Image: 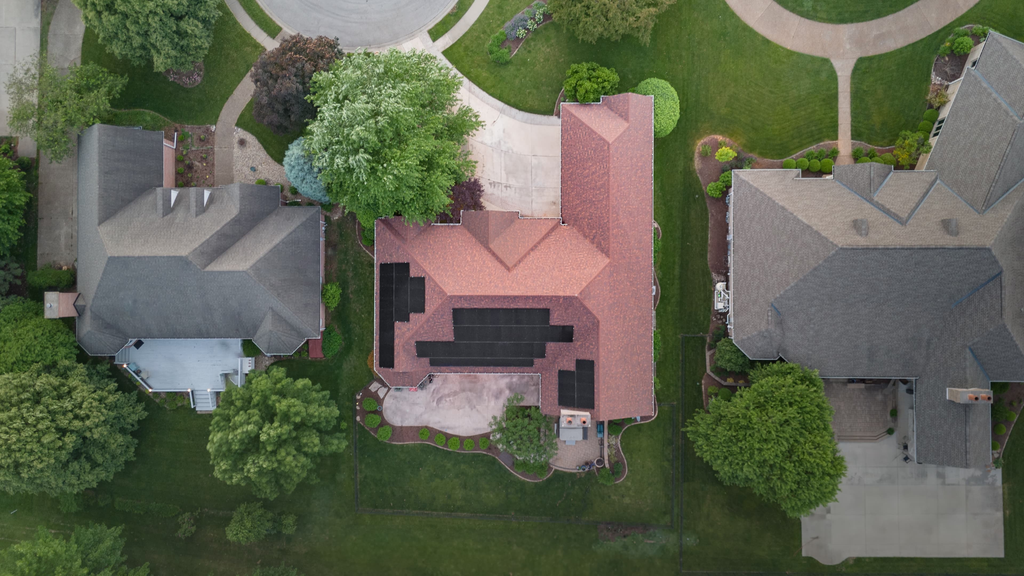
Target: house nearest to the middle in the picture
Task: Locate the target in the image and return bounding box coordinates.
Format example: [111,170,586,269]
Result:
[373,93,656,427]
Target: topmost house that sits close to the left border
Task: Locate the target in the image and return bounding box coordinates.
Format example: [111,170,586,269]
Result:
[44,124,326,356]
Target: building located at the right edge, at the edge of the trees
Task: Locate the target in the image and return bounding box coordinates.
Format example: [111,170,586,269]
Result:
[727,30,1024,468]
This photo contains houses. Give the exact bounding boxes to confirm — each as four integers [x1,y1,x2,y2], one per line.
[44,124,326,356]
[727,30,1024,468]
[373,93,656,427]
